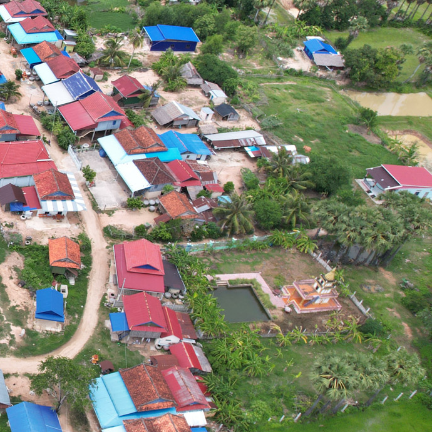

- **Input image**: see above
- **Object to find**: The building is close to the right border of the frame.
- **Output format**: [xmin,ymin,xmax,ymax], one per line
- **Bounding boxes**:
[358,164,432,203]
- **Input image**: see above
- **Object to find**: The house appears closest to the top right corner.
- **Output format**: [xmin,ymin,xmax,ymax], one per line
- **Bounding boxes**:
[297,36,344,76]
